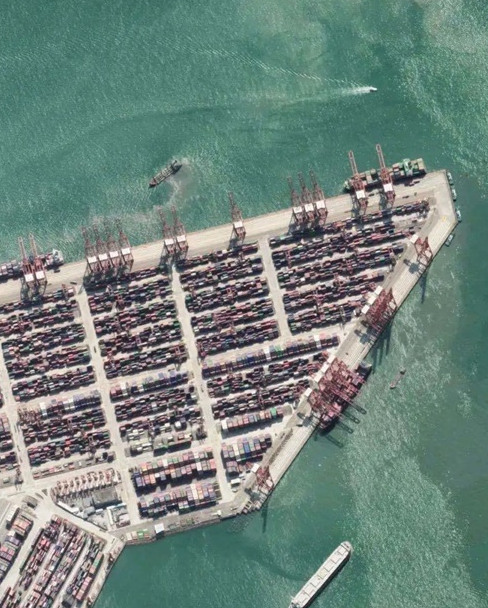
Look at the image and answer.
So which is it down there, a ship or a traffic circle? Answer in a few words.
ship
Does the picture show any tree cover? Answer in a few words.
No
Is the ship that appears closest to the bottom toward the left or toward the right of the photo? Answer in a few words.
right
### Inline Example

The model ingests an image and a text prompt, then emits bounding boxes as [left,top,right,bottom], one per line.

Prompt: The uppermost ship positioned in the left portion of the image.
[149,160,180,187]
